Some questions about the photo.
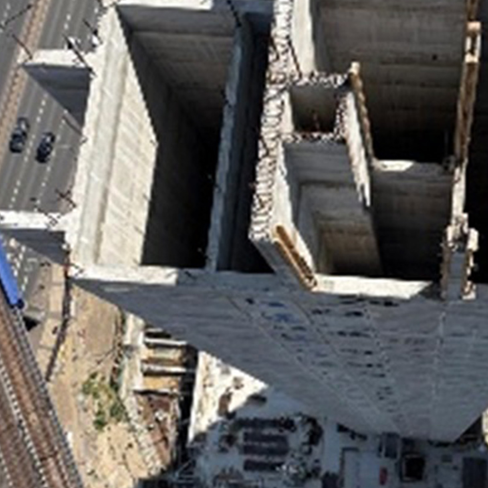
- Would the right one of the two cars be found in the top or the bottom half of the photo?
top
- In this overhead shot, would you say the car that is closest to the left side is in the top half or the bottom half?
top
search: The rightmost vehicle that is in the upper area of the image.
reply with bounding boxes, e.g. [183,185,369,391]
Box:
[32,128,55,163]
